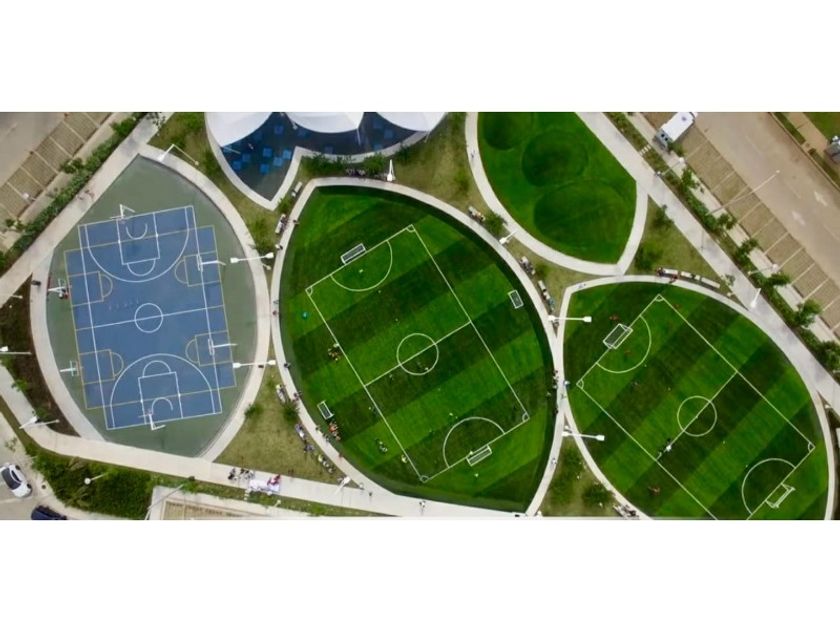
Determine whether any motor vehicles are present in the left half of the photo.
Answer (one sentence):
Yes, a motor vehicle appears in the left half of the photo.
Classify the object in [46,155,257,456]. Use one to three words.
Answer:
sports court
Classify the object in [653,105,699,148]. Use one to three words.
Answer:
van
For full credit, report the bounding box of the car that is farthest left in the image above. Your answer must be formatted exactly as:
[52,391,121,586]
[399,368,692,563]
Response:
[0,464,29,497]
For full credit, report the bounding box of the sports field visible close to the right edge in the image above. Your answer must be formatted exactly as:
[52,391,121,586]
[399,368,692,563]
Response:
[564,282,829,561]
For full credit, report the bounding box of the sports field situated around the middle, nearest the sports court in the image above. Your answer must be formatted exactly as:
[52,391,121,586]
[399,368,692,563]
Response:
[280,186,557,513]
